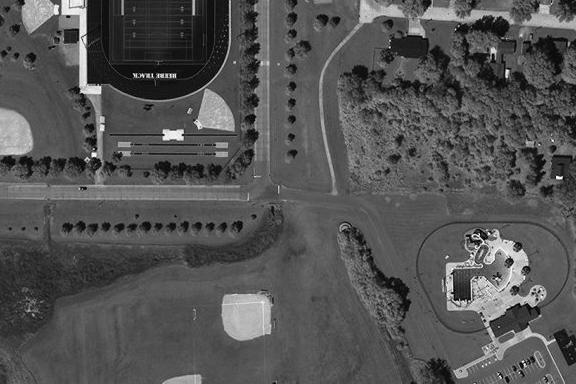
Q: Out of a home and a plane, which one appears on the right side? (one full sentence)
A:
The feature located on the right side is a home.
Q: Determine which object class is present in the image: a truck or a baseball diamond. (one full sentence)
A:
There is a baseball diamond in the scene.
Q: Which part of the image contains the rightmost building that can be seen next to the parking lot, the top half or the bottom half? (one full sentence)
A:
You can find the rightmost building that can be seen next to the parking lot in the bottom half.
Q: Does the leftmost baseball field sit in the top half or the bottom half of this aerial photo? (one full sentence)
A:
The top half of the photo is where the leftmost baseball field is.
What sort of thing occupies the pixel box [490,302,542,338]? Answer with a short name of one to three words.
building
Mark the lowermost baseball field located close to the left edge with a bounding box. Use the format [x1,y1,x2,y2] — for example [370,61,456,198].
[0,107,34,155]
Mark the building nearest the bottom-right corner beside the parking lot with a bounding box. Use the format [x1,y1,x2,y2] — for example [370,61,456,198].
[553,327,576,366]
